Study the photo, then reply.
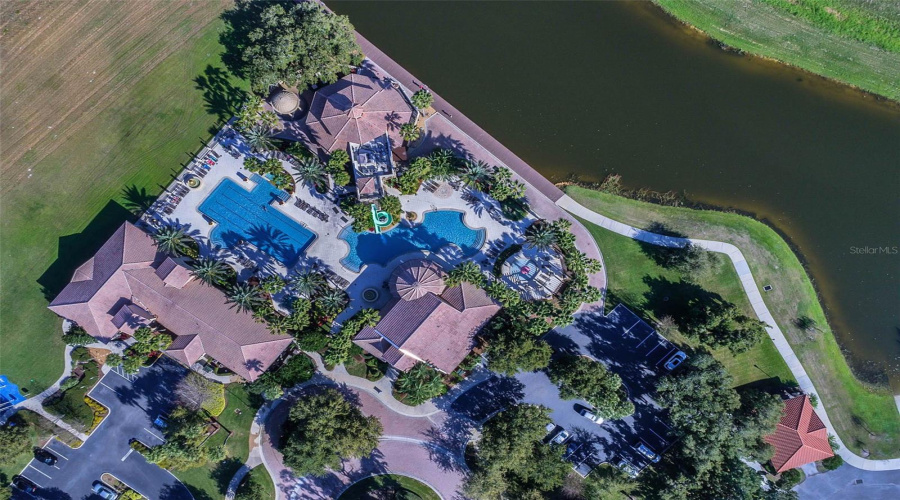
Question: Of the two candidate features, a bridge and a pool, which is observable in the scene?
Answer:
pool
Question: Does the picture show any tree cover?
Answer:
Yes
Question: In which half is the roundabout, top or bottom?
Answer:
bottom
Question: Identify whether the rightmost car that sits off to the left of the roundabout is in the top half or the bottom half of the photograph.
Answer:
bottom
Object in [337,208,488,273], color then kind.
blue swimming pool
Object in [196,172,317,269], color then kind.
blue swimming pool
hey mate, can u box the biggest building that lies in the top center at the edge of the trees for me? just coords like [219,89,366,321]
[305,73,412,160]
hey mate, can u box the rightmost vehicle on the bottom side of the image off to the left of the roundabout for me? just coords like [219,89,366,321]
[147,409,173,432]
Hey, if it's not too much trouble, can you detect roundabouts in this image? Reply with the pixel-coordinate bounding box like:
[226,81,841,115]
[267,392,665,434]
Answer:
[261,382,468,500]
